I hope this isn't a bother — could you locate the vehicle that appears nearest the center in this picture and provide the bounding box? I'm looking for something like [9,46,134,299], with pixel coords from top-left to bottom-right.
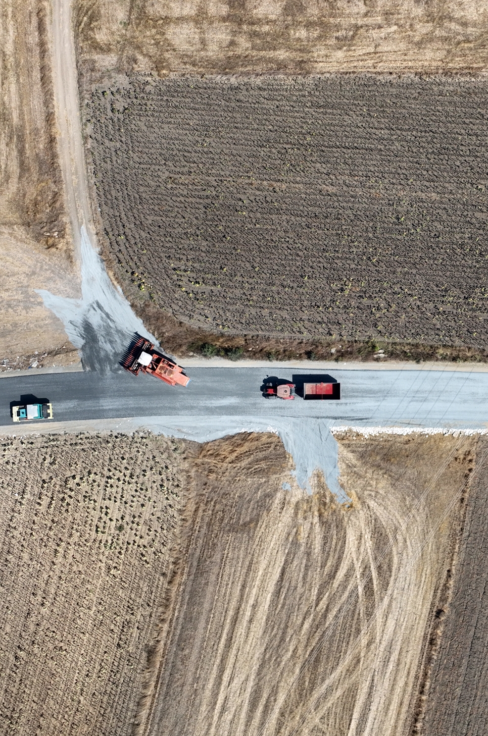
[263,384,298,402]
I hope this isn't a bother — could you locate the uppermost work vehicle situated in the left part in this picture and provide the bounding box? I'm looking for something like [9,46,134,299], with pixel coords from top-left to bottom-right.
[124,338,191,387]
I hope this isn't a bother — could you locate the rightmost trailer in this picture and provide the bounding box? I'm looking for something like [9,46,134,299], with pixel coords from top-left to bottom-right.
[296,382,340,402]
